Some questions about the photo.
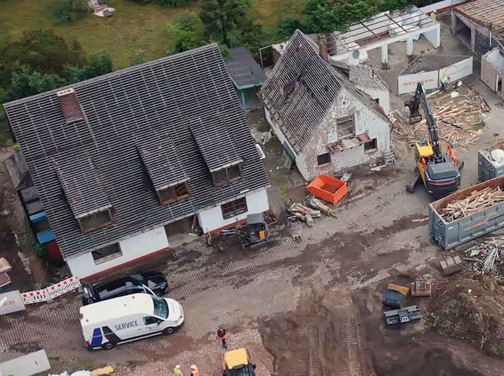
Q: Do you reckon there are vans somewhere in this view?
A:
Yes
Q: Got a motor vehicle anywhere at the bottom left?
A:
Yes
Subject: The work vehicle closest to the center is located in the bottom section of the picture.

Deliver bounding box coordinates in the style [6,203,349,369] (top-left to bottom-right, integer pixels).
[213,211,272,253]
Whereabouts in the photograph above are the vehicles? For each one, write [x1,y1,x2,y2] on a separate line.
[210,348,255,376]
[410,81,466,203]
[88,268,165,308]
[86,294,187,350]
[213,211,272,253]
